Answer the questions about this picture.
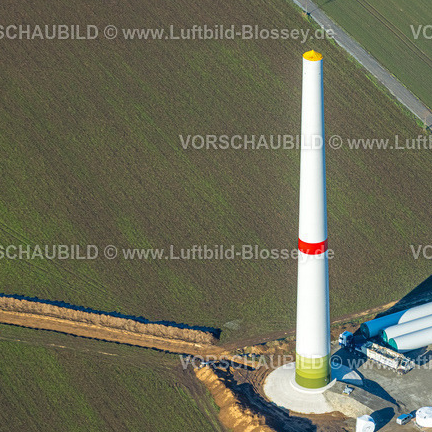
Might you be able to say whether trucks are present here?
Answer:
Yes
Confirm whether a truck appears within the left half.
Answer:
No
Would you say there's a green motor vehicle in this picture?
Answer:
No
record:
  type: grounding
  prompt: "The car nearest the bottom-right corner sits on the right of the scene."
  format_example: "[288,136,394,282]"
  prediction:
[394,411,415,426]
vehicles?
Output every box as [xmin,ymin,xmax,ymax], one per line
[337,331,415,372]
[394,411,415,426]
